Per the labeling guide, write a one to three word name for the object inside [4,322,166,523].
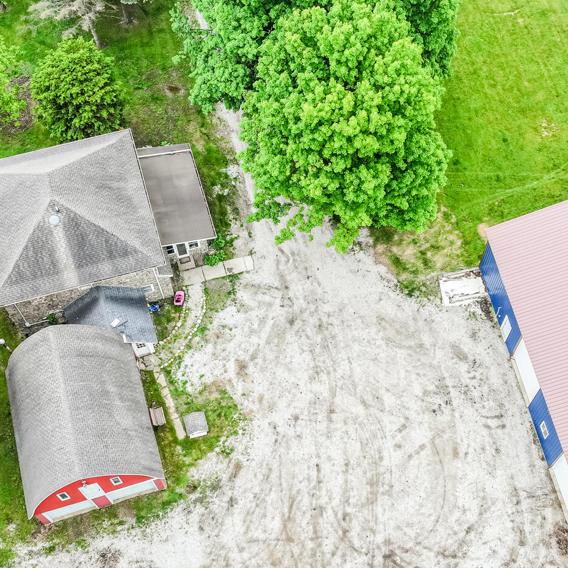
barn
